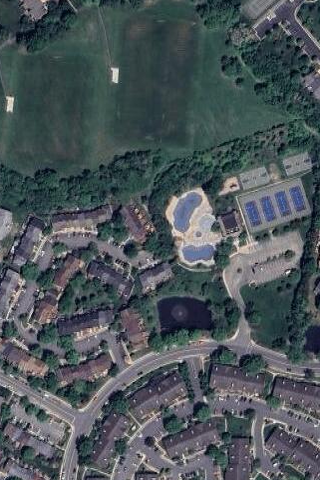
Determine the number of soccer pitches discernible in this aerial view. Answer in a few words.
two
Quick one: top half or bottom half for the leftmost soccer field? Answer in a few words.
top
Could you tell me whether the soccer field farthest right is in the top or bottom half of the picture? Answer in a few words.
top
